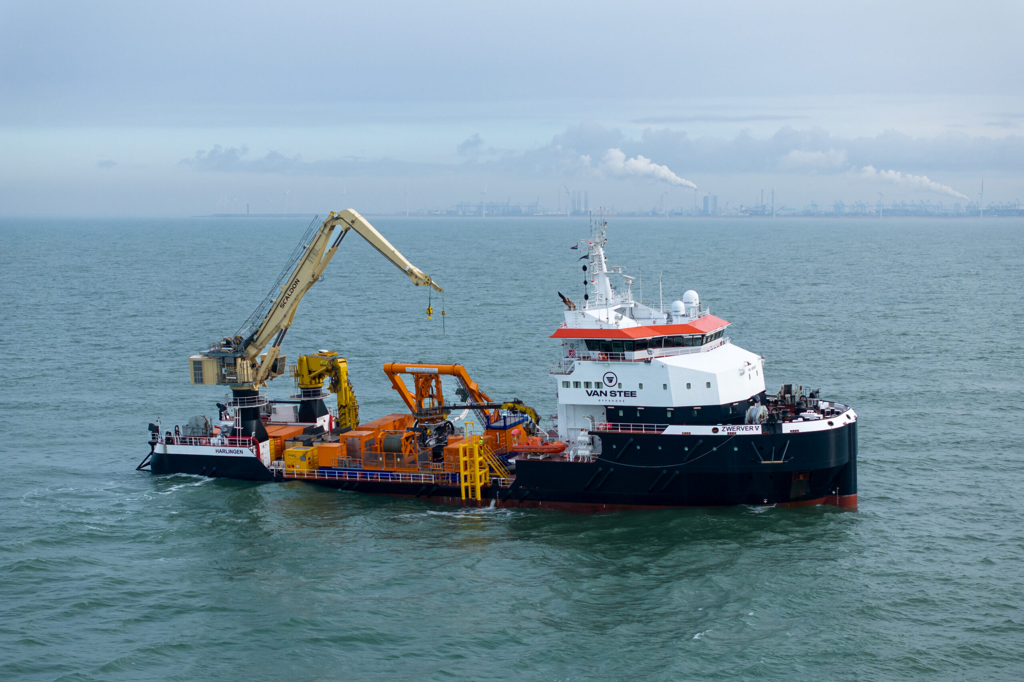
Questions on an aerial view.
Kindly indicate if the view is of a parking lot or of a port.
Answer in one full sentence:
It's a port.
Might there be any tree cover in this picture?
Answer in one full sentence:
No, tree cover can't be seen anywhere here.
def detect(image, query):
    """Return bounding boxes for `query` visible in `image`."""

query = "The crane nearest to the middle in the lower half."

[443,397,543,440]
